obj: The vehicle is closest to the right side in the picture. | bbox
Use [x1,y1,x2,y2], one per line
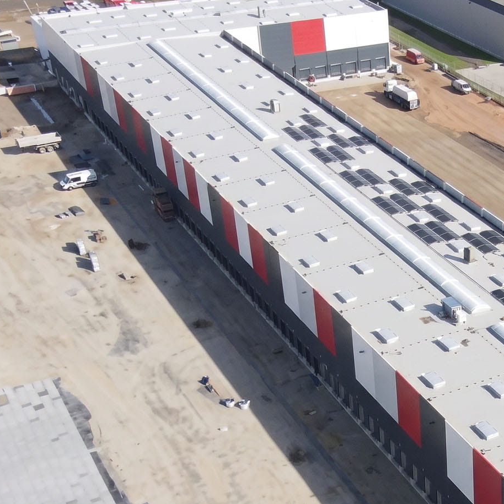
[448,75,473,94]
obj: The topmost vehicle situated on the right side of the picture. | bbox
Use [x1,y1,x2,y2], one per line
[407,44,423,61]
